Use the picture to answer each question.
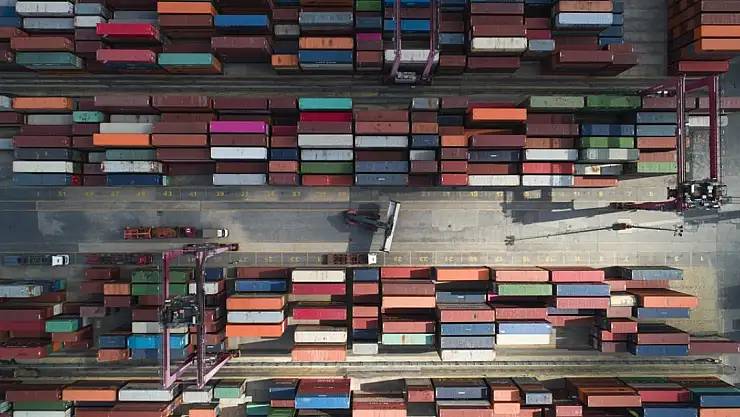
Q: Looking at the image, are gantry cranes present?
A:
Yes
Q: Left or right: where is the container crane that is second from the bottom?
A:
right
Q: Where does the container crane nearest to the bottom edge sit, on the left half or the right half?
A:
left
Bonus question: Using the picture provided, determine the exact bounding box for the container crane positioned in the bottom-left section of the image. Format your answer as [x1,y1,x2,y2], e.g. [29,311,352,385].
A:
[154,243,245,390]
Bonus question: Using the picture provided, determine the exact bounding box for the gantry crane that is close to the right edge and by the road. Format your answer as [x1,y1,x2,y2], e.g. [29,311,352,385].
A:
[613,74,723,210]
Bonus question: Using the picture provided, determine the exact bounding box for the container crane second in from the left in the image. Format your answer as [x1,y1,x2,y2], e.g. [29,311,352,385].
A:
[379,0,439,79]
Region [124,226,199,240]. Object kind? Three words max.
vehicle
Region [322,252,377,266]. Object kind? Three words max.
vehicle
